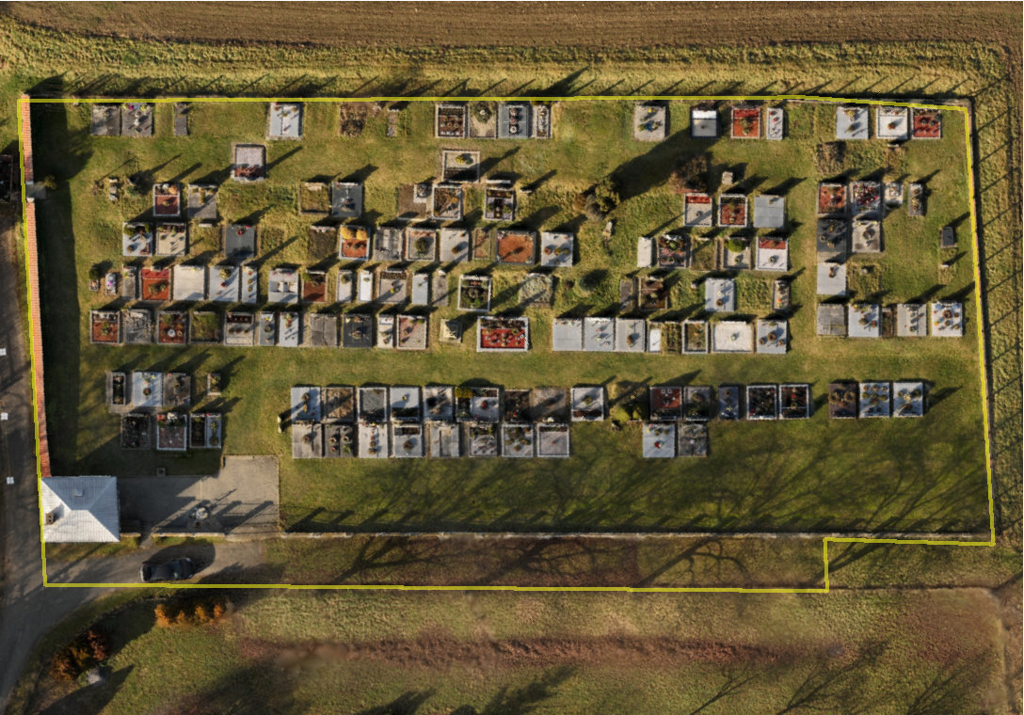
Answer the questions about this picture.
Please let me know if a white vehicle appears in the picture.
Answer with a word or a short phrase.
No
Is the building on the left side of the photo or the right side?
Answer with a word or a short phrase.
left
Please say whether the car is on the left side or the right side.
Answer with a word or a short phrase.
left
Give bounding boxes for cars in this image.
[139,557,194,583]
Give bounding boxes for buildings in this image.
[38,476,116,544]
